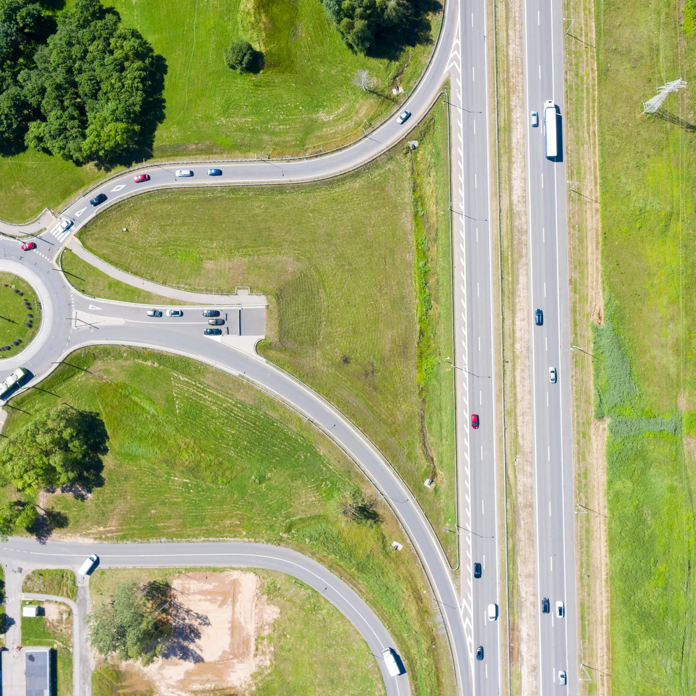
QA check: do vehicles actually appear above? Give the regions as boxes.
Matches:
[90,195,105,206]
[22,243,36,250]
[204,327,221,335]
[557,601,563,617]
[176,171,191,177]
[474,563,481,577]
[203,310,219,316]
[548,368,556,383]
[488,604,496,621]
[208,170,221,176]
[535,310,542,325]
[59,217,74,232]
[558,670,564,685]
[471,414,477,428]
[383,647,399,679]
[542,597,548,613]
[396,111,410,124]
[476,645,483,661]
[543,102,555,159]
[209,319,224,325]
[531,112,537,126]
[77,555,97,576]
[133,175,148,183]
[0,369,29,398]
